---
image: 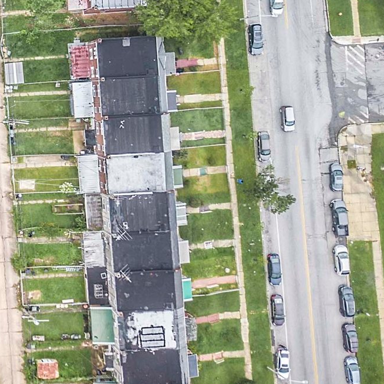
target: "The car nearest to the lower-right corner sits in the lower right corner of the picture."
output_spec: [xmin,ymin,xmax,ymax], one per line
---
[342,353,360,384]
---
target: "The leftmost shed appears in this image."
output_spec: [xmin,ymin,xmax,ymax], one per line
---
[3,62,23,84]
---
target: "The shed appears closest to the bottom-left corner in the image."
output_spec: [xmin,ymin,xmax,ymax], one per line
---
[36,358,58,380]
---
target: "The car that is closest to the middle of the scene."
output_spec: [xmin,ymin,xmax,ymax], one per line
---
[255,129,272,162]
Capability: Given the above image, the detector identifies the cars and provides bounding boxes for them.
[267,0,285,15]
[273,345,290,377]
[330,243,349,276]
[337,284,354,317]
[265,252,282,285]
[339,320,359,354]
[326,161,343,194]
[268,293,285,326]
[246,23,264,55]
[278,105,296,134]
[342,353,360,384]
[255,129,272,162]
